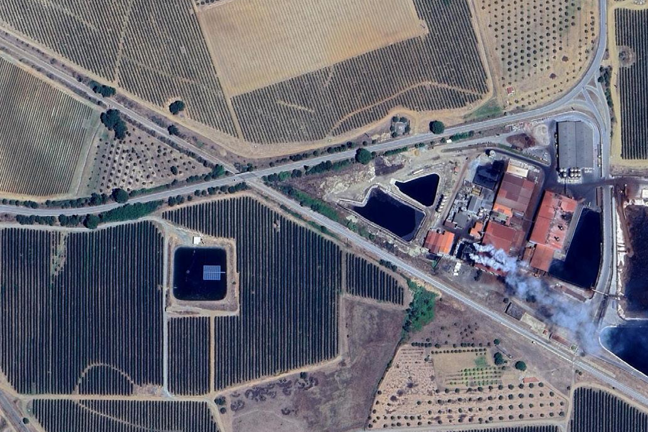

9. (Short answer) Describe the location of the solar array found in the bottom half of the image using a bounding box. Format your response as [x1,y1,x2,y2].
[203,266,226,280]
